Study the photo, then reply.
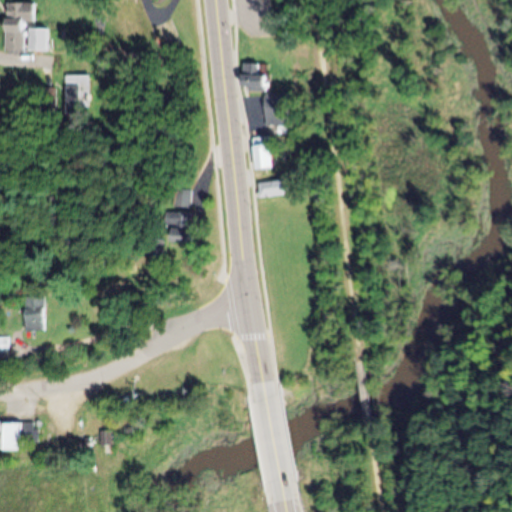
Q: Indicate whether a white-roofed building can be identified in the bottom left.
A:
Yes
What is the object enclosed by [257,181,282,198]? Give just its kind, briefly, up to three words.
house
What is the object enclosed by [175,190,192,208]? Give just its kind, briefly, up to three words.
building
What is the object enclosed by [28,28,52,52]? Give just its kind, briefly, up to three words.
building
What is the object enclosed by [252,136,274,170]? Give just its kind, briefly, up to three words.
house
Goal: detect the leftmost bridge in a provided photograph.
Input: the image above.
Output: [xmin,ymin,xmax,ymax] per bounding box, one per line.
[248,382,302,503]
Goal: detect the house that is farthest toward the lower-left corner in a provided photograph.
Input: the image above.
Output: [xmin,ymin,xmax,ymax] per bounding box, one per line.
[0,422,40,451]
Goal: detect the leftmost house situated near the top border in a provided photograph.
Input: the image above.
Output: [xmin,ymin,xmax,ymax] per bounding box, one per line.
[4,2,36,54]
